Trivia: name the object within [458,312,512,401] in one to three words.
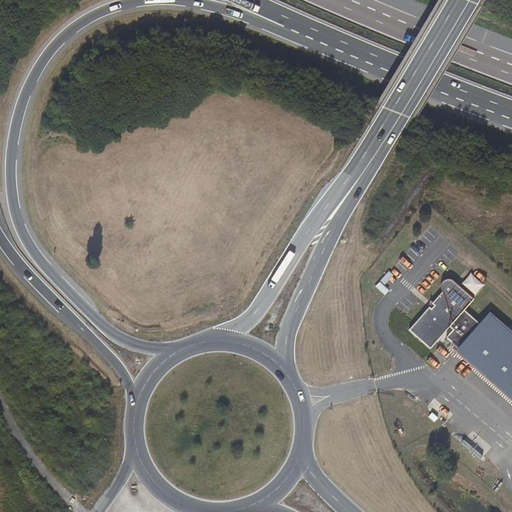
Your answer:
hangar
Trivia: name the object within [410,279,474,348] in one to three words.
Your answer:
building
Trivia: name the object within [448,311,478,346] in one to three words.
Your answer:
building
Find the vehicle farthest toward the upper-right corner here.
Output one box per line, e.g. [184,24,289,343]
[457,44,478,56]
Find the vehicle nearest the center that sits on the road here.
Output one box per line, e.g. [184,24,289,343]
[268,248,294,287]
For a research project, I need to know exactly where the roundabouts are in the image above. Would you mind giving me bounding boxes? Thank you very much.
[124,328,316,512]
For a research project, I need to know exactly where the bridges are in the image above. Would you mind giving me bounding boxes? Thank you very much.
[373,0,483,130]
